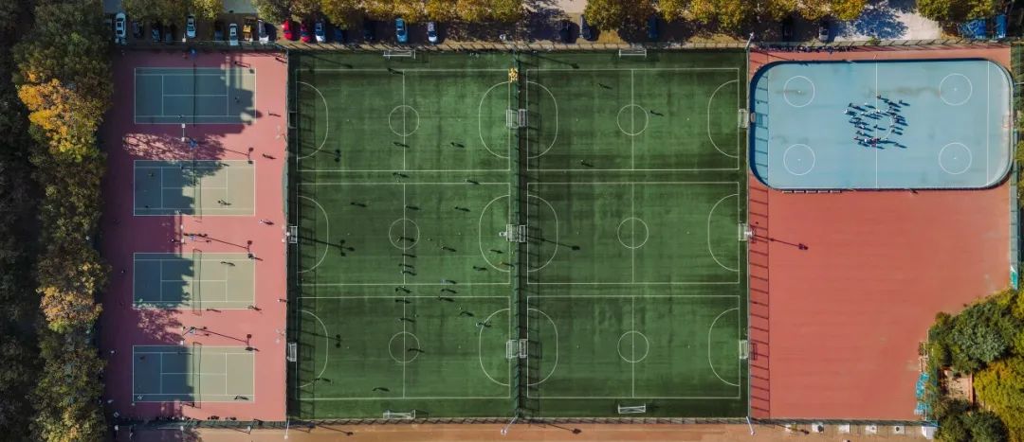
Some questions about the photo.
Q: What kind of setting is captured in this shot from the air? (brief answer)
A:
sports ground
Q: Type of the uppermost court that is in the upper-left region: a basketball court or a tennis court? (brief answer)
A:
tennis court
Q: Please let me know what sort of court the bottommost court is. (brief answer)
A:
tennis court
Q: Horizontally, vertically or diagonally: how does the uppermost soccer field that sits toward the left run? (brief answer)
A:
horizontally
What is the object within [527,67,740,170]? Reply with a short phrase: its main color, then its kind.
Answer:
green soccer field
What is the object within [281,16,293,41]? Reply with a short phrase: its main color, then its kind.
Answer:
red vehicle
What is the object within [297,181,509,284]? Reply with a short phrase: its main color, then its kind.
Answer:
green soccer field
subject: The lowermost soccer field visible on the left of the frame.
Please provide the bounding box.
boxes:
[297,295,509,400]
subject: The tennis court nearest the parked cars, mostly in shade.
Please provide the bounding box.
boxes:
[134,61,255,129]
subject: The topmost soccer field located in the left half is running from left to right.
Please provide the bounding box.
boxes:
[297,68,509,171]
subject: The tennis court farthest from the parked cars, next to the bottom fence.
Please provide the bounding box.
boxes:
[134,341,255,409]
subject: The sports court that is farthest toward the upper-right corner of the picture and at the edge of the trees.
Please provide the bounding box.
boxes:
[752,58,1017,192]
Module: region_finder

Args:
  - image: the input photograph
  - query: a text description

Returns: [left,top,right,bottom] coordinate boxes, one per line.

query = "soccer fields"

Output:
[527,67,740,170]
[297,295,509,400]
[297,68,509,171]
[527,295,740,399]
[297,181,509,284]
[527,180,740,284]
